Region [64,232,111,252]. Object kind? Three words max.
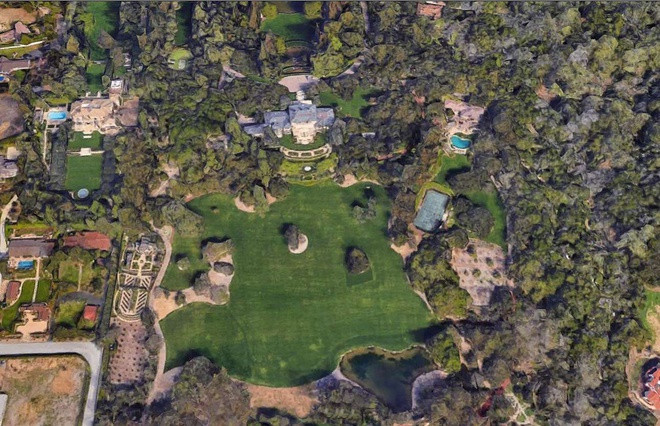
house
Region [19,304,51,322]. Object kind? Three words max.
house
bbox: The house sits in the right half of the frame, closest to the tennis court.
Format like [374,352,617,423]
[445,100,484,132]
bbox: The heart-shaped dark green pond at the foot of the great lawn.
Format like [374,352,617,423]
[340,345,438,412]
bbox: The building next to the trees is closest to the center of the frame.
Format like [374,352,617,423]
[245,89,335,140]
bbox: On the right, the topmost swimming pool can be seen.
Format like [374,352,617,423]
[450,134,471,149]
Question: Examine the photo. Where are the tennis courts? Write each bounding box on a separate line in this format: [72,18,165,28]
[413,187,451,231]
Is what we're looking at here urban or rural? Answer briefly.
rural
